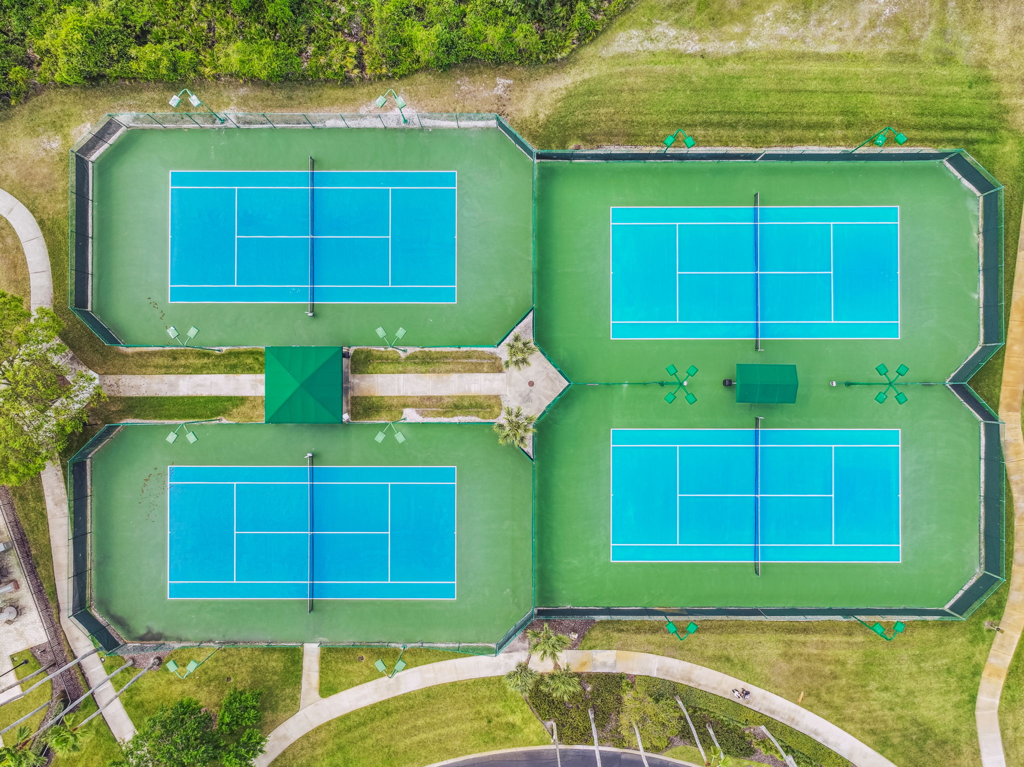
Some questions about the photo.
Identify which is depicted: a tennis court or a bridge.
tennis court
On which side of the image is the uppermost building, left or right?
left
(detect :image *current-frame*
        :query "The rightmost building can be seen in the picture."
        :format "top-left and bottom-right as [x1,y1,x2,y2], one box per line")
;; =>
[265,346,348,424]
